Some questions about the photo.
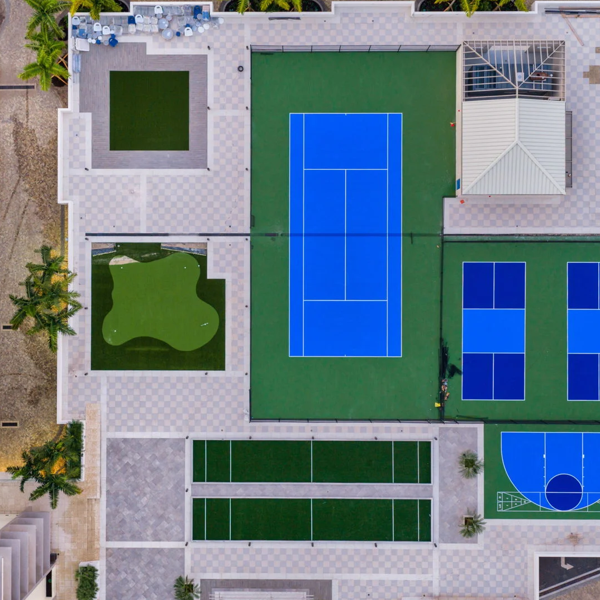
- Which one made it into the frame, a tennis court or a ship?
tennis court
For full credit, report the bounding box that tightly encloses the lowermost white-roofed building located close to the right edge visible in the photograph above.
[457,39,572,198]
